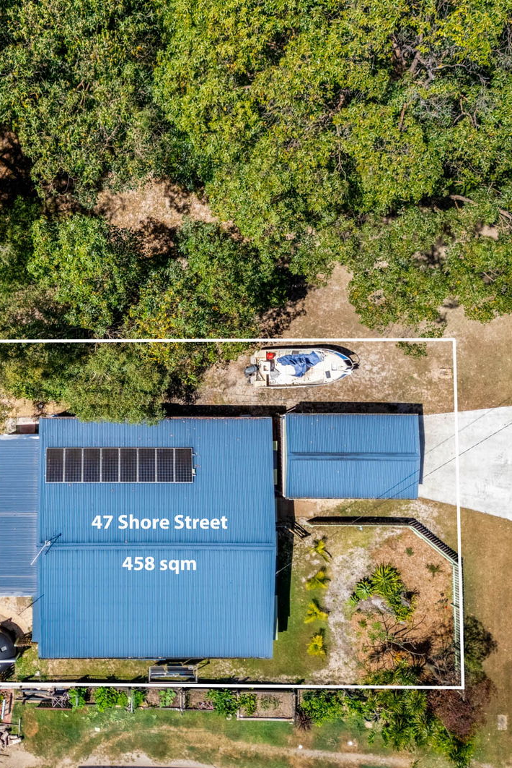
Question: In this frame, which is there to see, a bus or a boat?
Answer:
boat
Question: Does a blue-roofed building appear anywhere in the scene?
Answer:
Yes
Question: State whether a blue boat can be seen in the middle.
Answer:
No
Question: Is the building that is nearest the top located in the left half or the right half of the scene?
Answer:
right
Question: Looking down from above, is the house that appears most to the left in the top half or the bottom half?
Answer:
bottom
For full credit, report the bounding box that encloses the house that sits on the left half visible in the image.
[0,413,277,662]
